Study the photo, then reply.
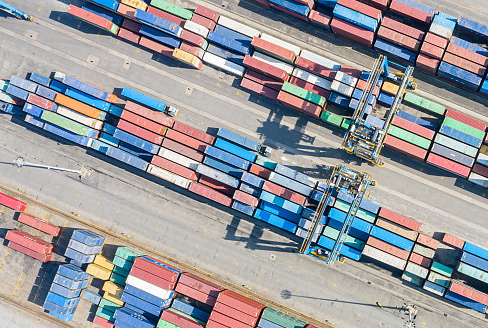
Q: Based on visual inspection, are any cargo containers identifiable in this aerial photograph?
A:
Yes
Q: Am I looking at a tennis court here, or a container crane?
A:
container crane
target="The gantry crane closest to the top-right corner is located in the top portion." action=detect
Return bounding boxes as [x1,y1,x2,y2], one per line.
[340,51,424,169]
